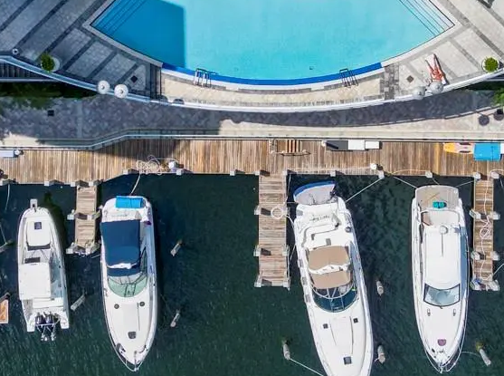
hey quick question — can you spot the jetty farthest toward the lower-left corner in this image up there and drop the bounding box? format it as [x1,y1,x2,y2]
[66,184,104,255]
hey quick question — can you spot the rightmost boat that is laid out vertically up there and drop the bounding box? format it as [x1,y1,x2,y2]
[407,186,471,375]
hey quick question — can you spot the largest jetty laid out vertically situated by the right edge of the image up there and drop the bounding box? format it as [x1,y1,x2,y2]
[465,177,502,291]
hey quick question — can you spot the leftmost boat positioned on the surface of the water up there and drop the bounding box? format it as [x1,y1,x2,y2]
[18,197,73,339]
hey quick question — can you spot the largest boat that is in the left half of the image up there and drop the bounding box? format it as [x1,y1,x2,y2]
[100,195,163,374]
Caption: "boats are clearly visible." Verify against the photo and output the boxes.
[100,195,163,374]
[18,197,73,339]
[292,195,378,376]
[291,180,337,204]
[407,186,471,375]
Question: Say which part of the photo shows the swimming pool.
top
